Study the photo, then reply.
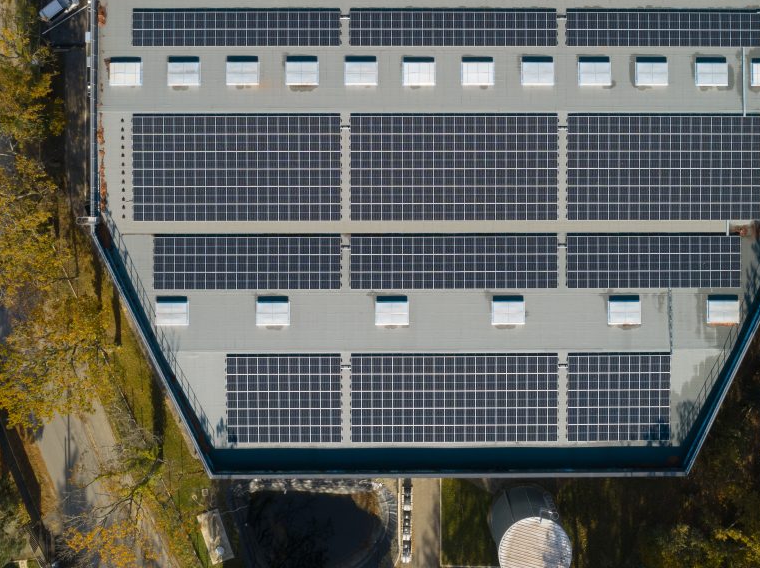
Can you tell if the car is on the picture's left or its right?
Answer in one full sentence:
It is on the left.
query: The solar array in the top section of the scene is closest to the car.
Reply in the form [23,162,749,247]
[132,12,342,46]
